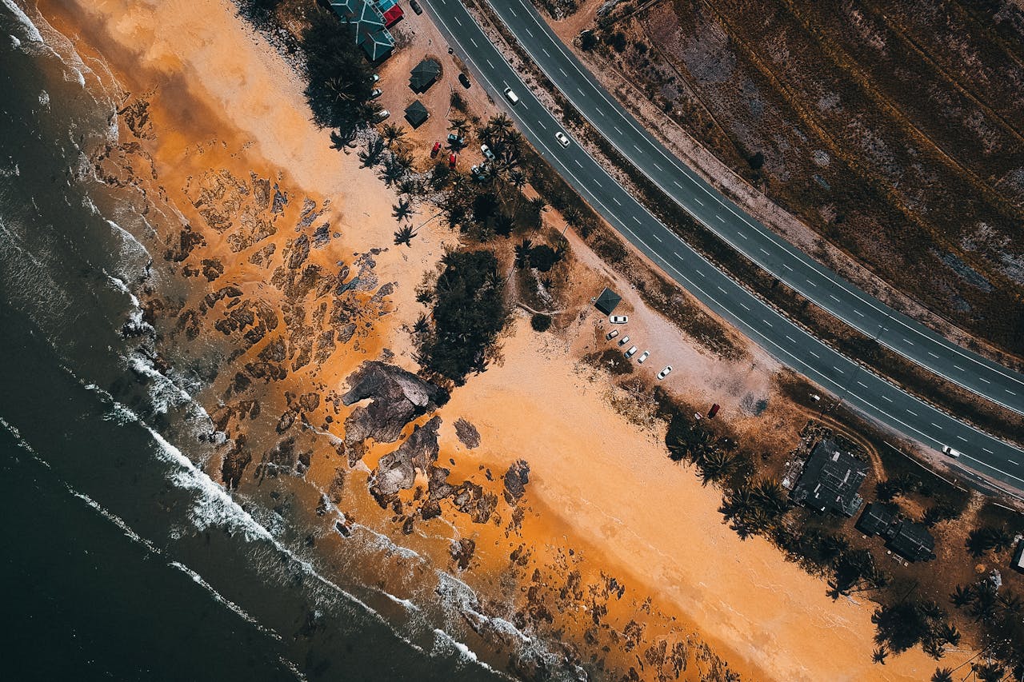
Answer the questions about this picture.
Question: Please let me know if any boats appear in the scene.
No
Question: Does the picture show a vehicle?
Yes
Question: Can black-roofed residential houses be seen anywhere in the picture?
Yes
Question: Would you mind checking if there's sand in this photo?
Yes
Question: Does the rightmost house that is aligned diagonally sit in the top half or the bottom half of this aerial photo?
bottom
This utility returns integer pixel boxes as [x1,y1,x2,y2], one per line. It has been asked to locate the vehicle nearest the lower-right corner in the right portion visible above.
[939,445,961,459]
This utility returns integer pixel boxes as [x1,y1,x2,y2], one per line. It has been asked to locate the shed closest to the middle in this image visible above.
[595,287,621,314]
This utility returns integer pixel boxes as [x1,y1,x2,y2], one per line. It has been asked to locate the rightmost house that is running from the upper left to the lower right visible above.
[853,501,935,563]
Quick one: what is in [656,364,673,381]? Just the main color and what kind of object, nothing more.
white car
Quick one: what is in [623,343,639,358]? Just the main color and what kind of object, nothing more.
white car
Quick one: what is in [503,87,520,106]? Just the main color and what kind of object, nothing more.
white vehicle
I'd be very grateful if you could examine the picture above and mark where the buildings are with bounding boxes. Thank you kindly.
[327,0,394,63]
[1007,537,1024,569]
[785,438,868,522]
[412,57,441,90]
[404,99,428,126]
[853,501,935,563]
[595,287,621,314]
